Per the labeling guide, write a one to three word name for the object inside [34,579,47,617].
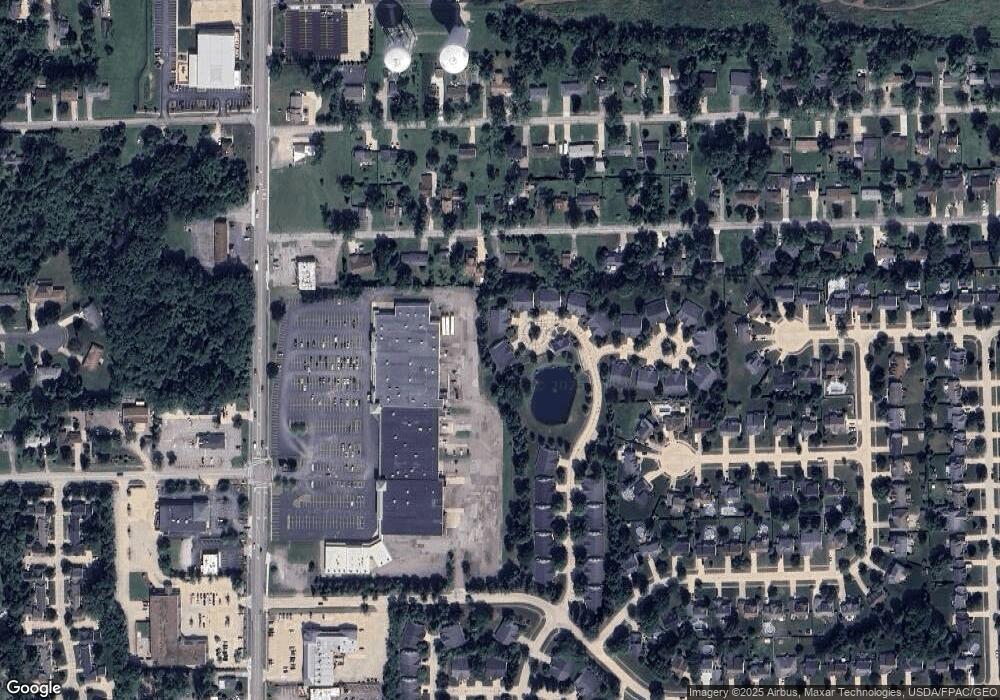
house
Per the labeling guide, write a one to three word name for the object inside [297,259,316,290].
building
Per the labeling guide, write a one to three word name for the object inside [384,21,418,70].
water tower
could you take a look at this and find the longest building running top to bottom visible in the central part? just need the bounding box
[371,299,444,535]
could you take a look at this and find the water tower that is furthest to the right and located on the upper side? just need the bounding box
[440,23,471,70]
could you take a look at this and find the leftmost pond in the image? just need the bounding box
[531,366,576,425]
